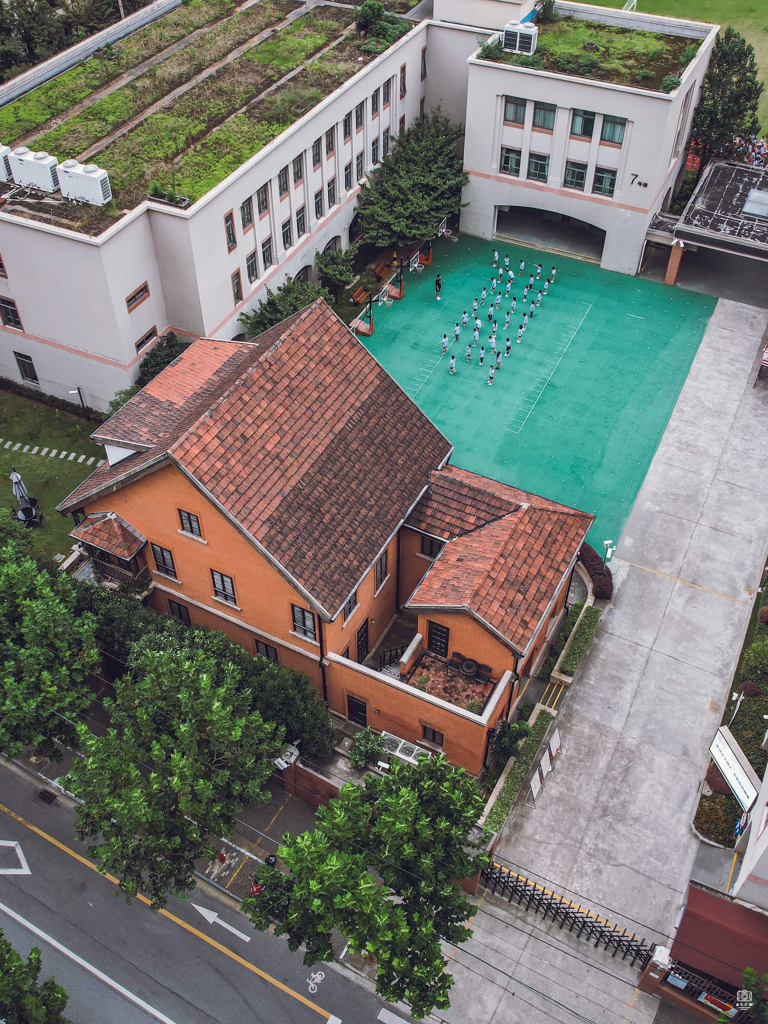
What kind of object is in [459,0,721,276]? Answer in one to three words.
building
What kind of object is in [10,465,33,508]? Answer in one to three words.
umbrella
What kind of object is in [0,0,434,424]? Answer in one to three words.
building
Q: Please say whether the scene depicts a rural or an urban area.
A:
urban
